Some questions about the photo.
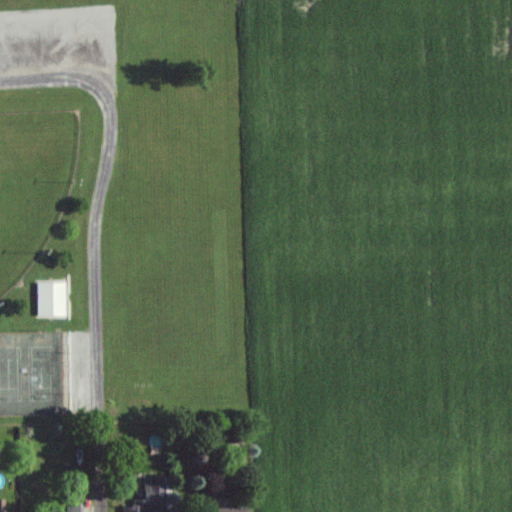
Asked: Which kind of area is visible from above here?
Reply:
farmland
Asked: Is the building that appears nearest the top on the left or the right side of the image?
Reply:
left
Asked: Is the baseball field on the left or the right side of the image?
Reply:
left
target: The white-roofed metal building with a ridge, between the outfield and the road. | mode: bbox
[38,280,67,318]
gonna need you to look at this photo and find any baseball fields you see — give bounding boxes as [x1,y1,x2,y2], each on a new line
[0,110,81,301]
